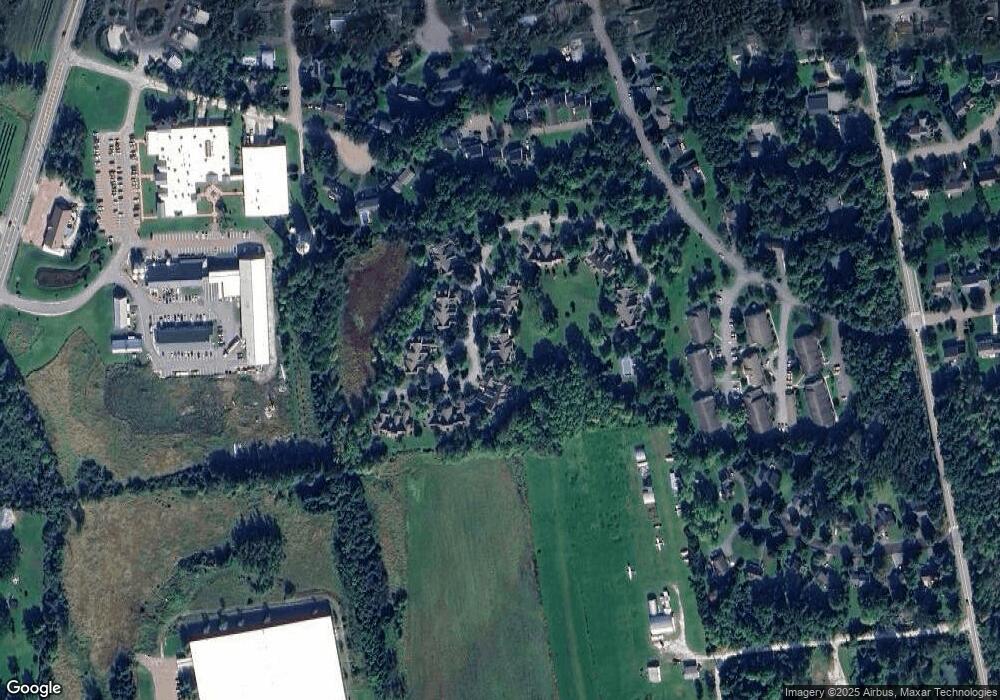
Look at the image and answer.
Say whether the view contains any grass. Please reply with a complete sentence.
Yes, there is grass in the image.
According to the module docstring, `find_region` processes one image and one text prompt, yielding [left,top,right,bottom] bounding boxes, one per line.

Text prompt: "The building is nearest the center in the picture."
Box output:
[489,324,518,364]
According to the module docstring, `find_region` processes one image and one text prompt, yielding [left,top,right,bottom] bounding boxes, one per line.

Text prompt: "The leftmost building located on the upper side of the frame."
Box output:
[44,207,71,250]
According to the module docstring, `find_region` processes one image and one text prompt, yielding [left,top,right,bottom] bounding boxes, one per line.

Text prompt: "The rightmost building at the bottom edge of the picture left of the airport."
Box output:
[190,610,348,700]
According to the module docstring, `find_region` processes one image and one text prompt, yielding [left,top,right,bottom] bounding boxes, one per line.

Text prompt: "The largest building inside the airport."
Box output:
[649,614,675,634]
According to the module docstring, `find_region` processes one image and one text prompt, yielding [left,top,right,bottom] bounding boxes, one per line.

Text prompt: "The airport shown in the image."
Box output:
[526,426,706,700]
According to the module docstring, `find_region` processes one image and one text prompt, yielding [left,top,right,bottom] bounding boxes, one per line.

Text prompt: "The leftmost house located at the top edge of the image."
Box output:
[109,25,125,48]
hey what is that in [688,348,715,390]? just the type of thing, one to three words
building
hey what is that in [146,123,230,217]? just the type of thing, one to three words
building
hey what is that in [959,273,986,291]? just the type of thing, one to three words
house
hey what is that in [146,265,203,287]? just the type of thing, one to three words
barn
